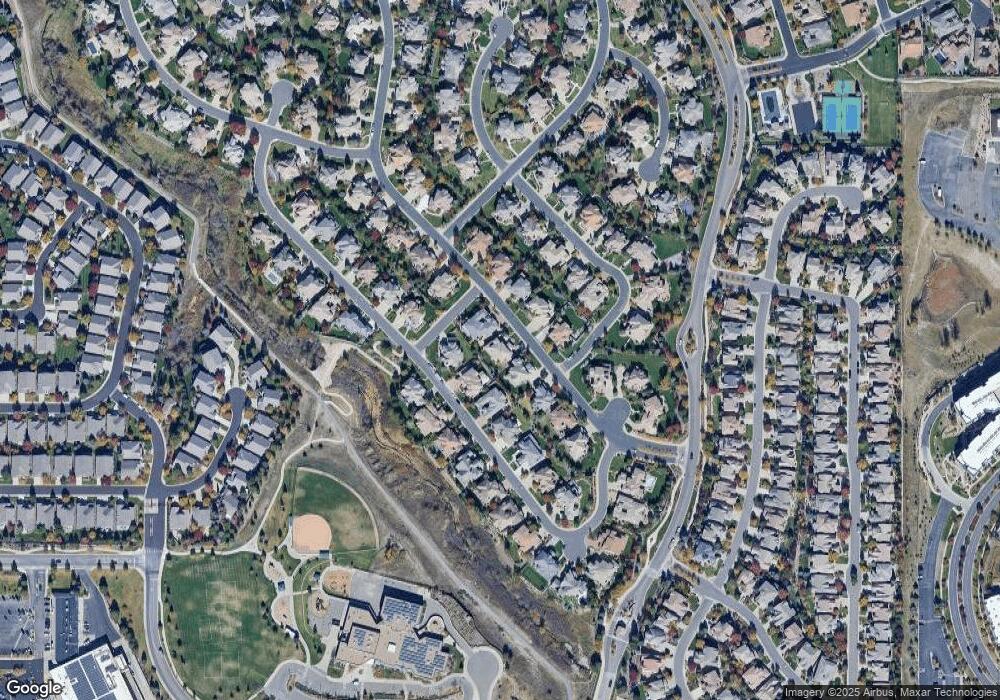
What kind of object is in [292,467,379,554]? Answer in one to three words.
baseball field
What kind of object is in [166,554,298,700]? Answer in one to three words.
soccer field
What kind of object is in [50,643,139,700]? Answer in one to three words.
building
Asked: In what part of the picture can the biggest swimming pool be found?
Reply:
top right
